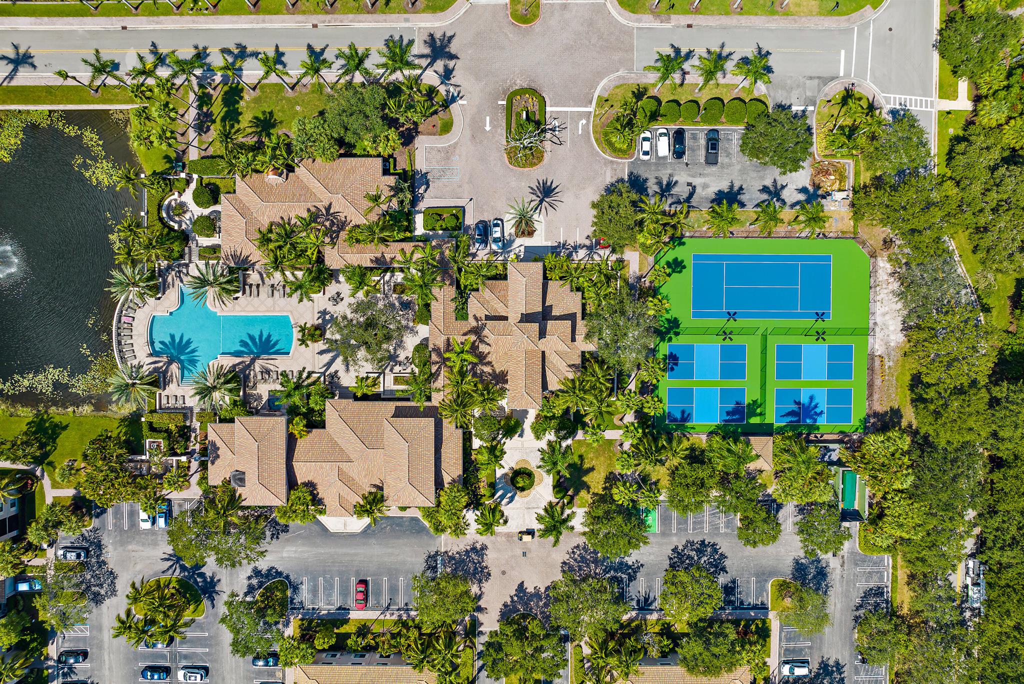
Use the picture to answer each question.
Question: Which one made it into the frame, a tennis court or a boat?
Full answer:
The image shows a tennis court.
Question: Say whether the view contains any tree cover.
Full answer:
Yes, there's tree cover in this view.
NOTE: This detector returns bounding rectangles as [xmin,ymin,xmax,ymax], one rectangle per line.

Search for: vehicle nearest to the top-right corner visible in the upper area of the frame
[704,130,719,165]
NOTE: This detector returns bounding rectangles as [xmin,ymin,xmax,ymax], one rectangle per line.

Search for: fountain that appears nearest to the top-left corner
[0,224,33,286]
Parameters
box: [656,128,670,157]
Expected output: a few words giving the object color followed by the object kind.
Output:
white car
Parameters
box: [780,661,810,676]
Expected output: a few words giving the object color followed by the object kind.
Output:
white car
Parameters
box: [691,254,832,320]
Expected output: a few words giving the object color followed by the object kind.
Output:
blue tennis court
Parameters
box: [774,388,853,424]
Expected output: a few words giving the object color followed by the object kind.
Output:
blue sports court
